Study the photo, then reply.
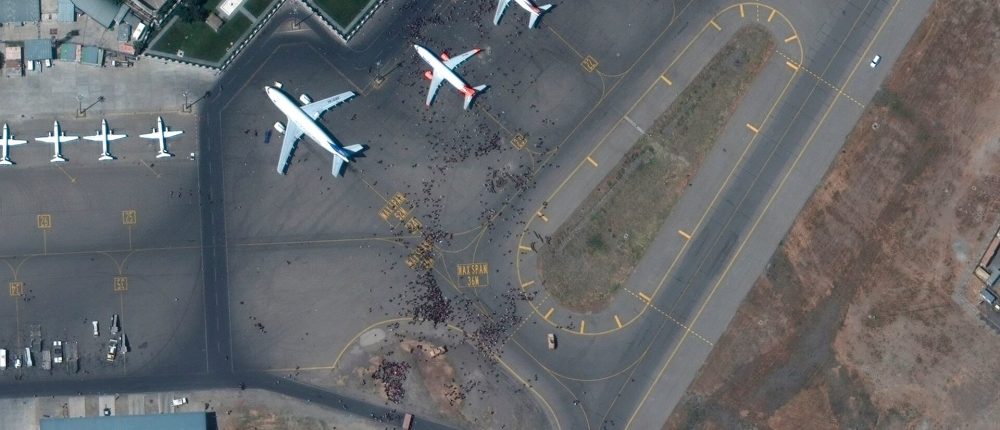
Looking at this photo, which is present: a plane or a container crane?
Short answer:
plane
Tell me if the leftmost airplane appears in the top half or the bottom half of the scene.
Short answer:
top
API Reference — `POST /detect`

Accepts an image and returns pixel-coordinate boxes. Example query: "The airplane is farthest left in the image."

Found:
[0,124,27,162]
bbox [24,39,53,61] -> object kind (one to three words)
shed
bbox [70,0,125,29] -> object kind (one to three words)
hangar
